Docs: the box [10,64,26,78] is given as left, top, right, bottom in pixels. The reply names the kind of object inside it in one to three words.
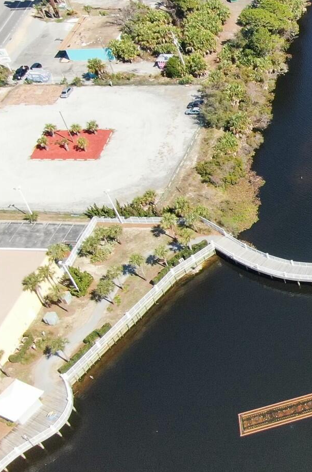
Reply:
vehicle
